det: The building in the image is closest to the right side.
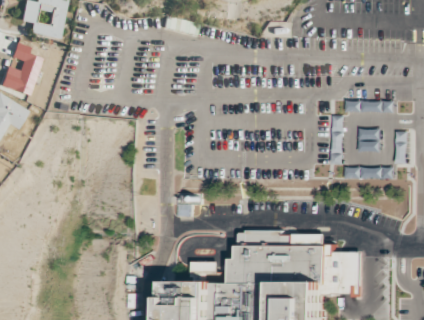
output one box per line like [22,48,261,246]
[394,130,409,164]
